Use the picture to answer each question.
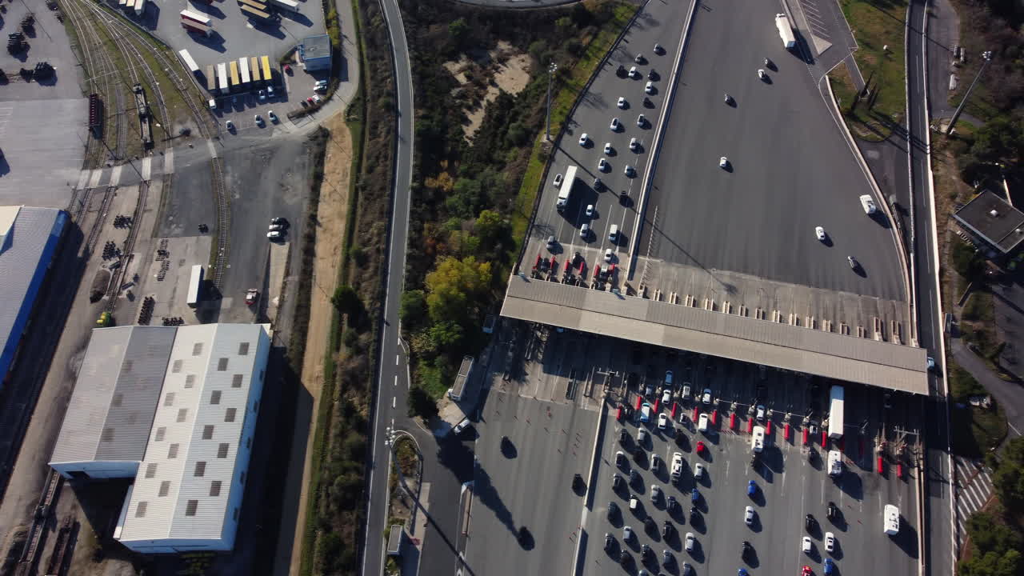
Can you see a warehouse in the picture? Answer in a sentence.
Yes, this view includes a warehouse.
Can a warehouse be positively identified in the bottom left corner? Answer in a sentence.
Yes, you'll find a warehouse in the bottom left corner.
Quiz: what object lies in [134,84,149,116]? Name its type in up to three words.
rail car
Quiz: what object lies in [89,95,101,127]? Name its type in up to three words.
rail car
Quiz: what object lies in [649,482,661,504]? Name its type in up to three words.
vehicle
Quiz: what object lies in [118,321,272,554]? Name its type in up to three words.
warehouse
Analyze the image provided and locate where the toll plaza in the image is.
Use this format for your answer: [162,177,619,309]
[497,0,909,327]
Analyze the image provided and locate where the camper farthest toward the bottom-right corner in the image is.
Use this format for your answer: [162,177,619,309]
[885,505,900,537]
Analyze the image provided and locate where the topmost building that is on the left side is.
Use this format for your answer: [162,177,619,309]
[297,35,331,67]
